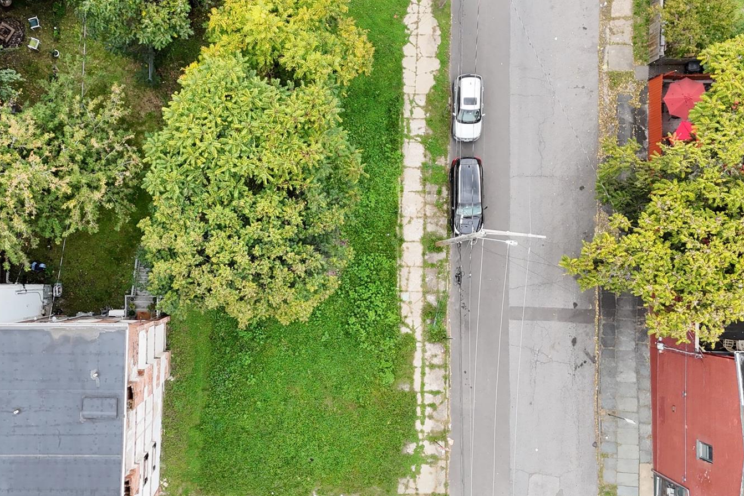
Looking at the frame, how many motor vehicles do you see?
two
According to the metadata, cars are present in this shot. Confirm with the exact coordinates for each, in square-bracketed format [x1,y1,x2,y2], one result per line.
[448,158,486,236]
[448,75,485,145]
